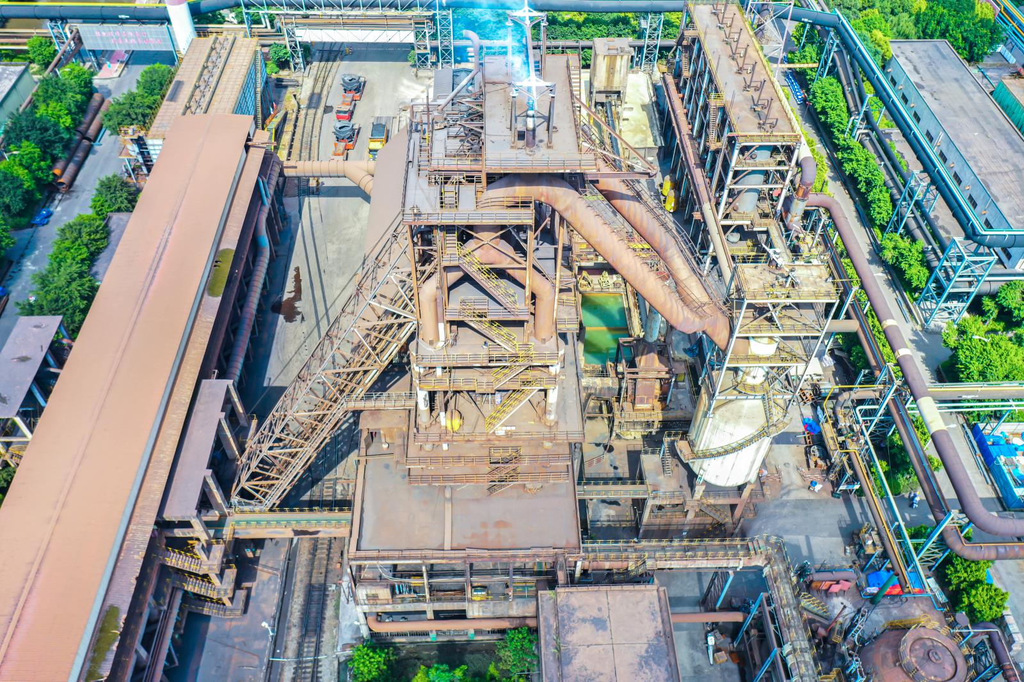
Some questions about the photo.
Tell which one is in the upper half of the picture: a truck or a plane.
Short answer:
truck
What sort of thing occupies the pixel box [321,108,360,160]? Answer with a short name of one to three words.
truck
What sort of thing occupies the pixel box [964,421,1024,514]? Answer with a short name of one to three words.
building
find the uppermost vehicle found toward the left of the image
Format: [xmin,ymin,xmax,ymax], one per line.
[331,63,368,112]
